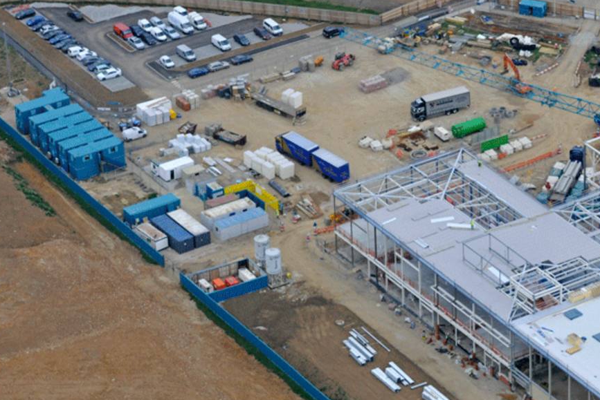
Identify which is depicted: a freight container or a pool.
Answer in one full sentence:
I can see a freight container in this picture.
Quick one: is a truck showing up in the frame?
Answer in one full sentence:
Yes, a truck is visible in the scene.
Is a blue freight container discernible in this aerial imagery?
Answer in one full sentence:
Yes, looking at the shot, I can spot a blue freight container.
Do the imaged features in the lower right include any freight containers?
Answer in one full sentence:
No, no freight container appears in the lower right.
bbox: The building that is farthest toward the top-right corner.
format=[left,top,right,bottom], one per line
[520,0,549,19]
